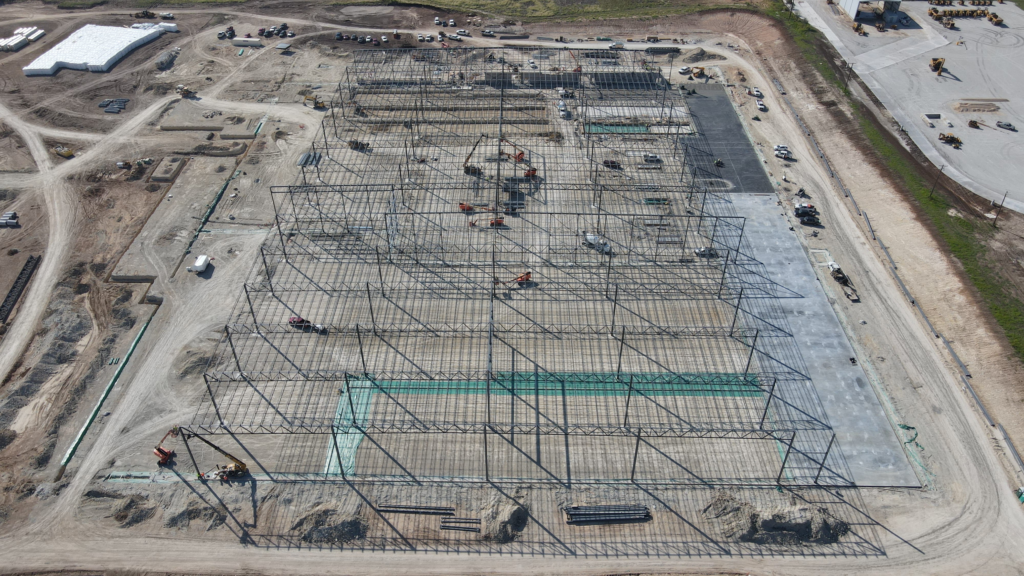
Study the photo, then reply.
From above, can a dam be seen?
No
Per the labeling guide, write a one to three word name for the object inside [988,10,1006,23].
vehicle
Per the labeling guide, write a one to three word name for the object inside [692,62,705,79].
vehicle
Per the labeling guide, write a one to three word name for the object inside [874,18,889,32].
work vehicle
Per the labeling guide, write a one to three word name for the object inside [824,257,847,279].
truck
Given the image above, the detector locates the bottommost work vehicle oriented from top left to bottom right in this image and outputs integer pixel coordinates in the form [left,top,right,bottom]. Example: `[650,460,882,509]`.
[178,431,248,483]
